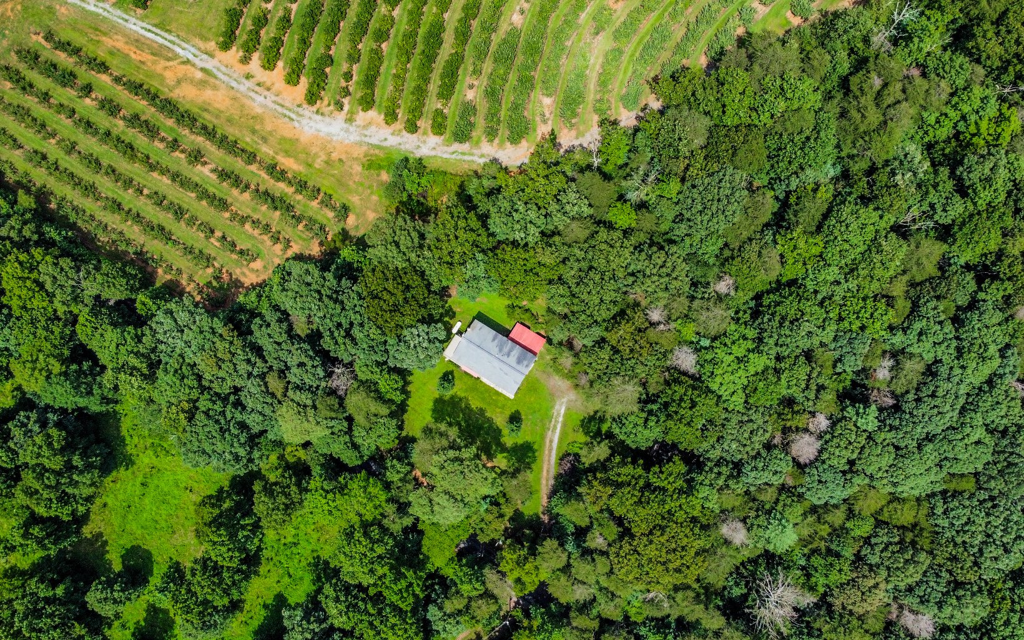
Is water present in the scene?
No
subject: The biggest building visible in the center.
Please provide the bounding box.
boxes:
[444,320,537,399]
